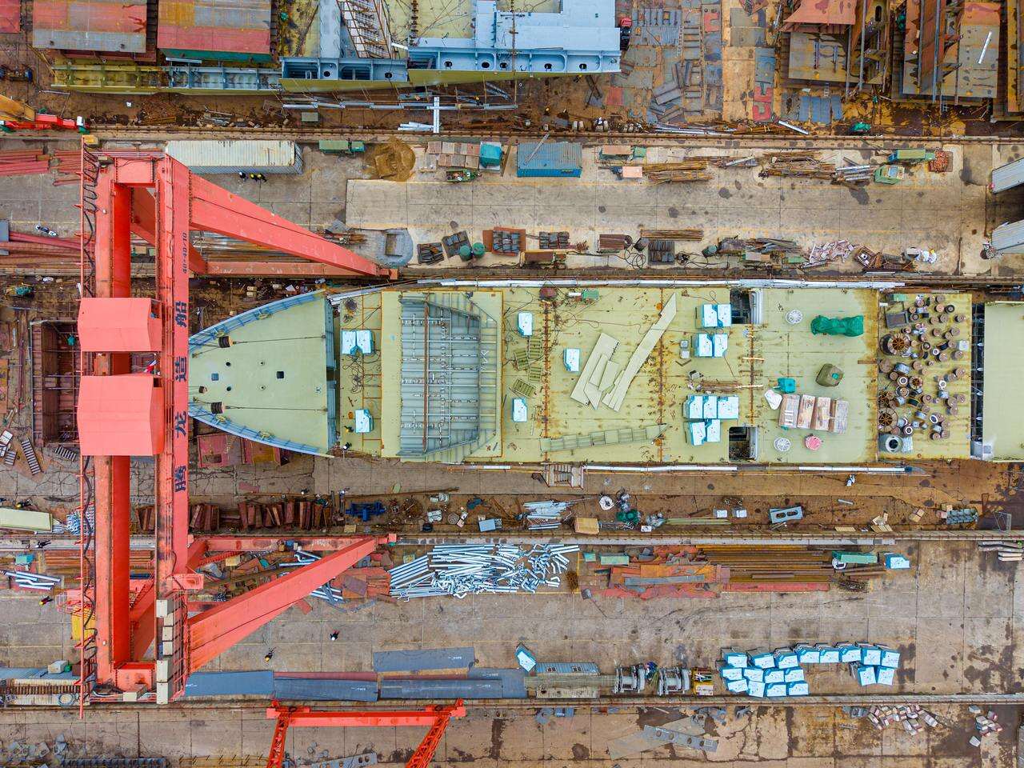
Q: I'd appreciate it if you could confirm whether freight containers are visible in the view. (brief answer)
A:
Yes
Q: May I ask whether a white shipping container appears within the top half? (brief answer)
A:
Yes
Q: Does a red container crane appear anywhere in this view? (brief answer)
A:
Yes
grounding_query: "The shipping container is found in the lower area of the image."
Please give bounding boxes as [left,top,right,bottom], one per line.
[0,505,65,530]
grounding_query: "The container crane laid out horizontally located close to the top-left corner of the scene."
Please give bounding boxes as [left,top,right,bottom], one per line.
[0,95,95,136]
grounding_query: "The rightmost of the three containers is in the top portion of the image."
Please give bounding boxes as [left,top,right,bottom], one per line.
[517,143,582,176]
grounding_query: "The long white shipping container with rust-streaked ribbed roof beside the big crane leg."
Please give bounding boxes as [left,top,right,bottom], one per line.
[167,141,303,174]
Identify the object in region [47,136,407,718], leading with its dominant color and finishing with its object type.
red container crane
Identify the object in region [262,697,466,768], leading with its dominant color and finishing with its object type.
red container crane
